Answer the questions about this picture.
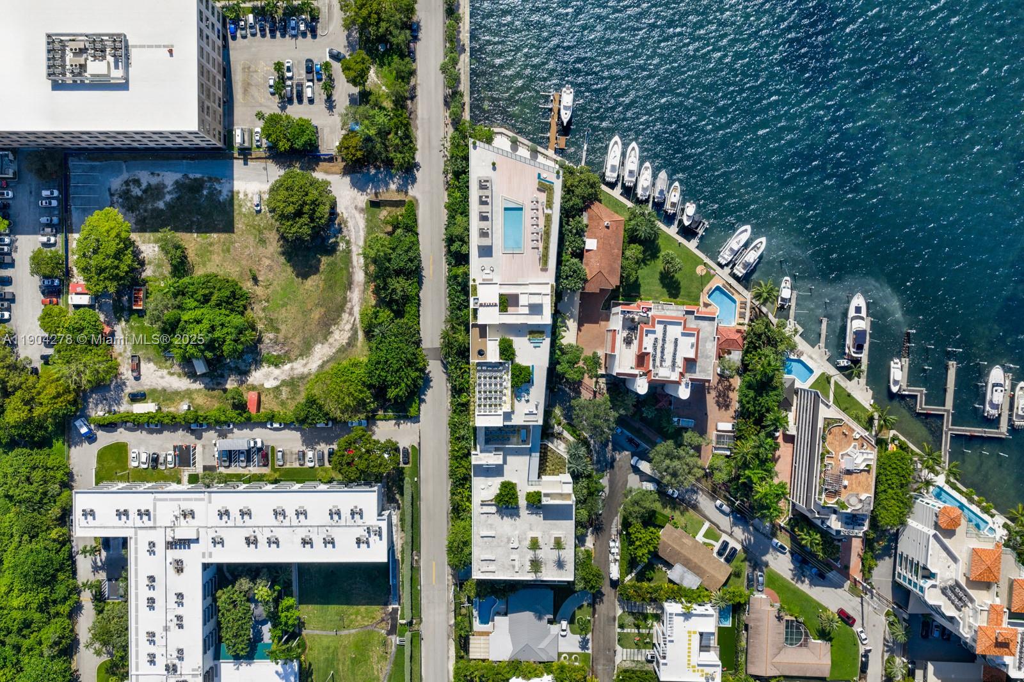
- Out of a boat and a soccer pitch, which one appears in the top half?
boat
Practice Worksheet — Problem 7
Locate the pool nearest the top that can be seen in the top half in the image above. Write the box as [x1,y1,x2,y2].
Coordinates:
[502,195,526,253]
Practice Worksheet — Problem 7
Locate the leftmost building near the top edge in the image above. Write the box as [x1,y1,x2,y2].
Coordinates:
[0,0,227,150]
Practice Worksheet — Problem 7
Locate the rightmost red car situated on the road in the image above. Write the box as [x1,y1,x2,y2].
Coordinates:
[836,608,855,625]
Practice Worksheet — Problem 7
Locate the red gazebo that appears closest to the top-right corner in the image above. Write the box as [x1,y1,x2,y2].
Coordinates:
[716,327,744,351]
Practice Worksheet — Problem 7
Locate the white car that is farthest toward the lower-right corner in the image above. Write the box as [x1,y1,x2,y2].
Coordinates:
[854,626,868,646]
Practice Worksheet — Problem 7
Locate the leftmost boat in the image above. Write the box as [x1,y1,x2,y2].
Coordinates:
[559,85,573,127]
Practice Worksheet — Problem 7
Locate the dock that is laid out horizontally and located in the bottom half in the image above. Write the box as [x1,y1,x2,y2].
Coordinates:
[948,426,1008,439]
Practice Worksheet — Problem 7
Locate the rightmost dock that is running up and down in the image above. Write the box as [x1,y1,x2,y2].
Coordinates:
[997,372,1012,435]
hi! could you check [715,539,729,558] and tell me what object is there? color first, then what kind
black car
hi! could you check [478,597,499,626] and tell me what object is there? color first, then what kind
blue swimming pool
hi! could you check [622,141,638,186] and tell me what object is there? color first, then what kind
white boat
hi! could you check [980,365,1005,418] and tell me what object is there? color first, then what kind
white boat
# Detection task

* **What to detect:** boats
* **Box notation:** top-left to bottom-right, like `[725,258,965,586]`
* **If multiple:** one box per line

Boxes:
[664,182,680,216]
[834,360,850,366]
[653,170,668,203]
[732,238,766,278]
[842,292,866,364]
[688,214,701,234]
[1008,381,1024,429]
[559,85,573,127]
[888,358,901,394]
[980,365,1005,418]
[776,277,790,310]
[635,161,651,201]
[604,135,620,184]
[622,141,638,186]
[716,225,750,266]
[682,201,695,226]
